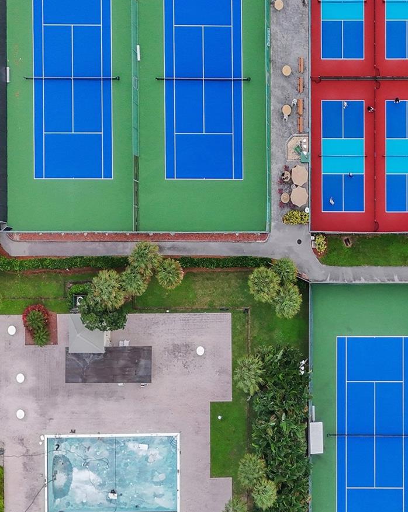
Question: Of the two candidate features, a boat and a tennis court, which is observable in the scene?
tennis court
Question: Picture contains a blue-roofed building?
No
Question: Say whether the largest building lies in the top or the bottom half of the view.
bottom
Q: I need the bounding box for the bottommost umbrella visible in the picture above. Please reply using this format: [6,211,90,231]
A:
[289,185,309,209]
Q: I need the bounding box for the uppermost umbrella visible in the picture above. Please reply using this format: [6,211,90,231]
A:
[290,164,309,187]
